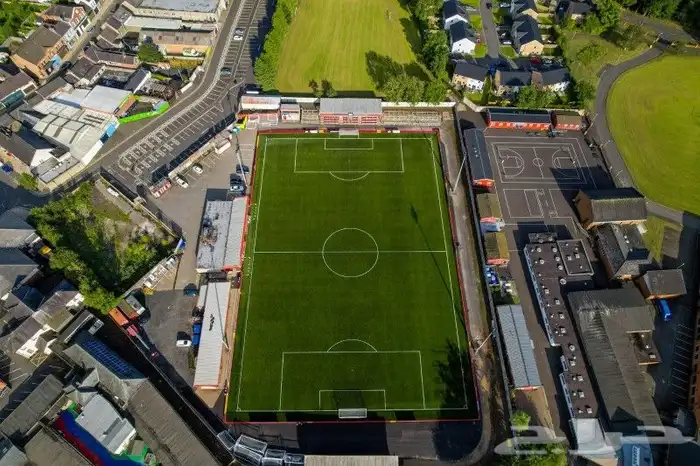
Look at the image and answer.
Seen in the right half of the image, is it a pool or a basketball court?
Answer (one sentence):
You can see a basketball court in the right half of the image.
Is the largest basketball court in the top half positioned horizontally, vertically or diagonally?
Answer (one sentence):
What the image shows is the largest basketball court in the top half lying horizontally.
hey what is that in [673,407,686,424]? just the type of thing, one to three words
vehicle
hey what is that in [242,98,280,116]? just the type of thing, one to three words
building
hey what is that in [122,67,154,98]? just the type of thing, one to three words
house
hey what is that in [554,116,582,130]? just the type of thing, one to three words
building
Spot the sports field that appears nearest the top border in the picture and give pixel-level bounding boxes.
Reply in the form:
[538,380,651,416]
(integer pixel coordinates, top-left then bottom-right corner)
[265,0,439,98]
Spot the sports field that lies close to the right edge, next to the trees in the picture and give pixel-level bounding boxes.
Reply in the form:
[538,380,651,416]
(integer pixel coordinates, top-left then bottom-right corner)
[608,54,700,215]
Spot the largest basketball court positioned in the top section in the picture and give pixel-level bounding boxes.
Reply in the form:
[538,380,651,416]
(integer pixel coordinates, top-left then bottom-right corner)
[488,137,597,191]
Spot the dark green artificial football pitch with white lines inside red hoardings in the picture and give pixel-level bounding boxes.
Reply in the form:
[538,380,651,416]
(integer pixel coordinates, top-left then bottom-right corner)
[226,135,480,422]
